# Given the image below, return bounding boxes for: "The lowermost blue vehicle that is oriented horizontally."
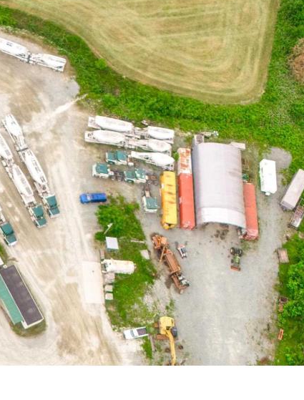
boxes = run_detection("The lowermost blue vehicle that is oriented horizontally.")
[78,193,107,206]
